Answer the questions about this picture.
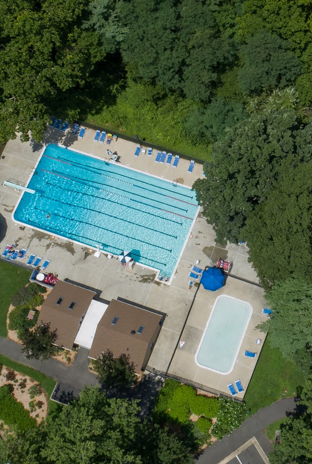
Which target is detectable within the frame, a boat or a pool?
pool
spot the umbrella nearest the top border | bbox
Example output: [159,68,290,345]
[118,254,132,268]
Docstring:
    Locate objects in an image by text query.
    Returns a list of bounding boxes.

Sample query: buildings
[88,298,162,376]
[32,280,96,351]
